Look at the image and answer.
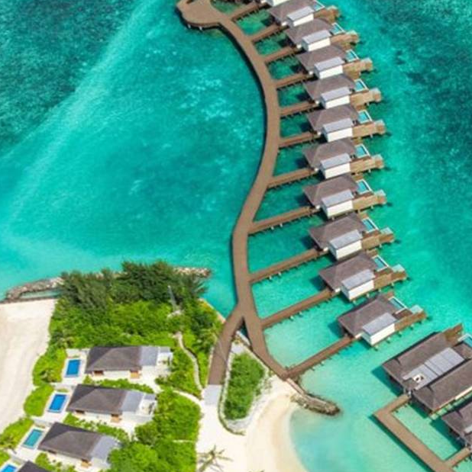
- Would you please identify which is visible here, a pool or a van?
pool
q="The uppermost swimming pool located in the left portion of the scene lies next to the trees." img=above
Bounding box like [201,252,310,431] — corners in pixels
[63,356,83,378]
